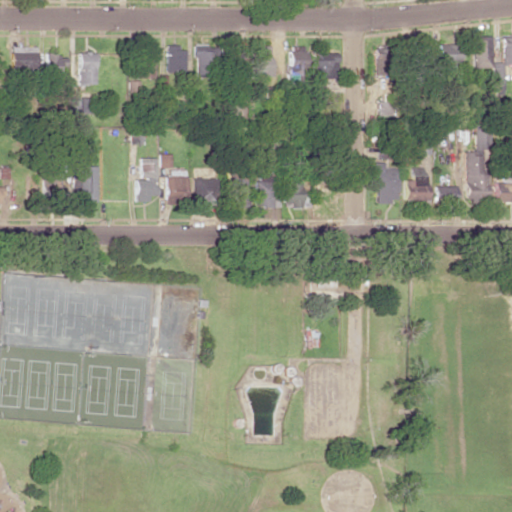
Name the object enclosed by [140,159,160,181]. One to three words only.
house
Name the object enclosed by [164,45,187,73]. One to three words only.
house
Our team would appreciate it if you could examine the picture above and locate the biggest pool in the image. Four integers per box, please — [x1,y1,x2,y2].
[236,366,294,443]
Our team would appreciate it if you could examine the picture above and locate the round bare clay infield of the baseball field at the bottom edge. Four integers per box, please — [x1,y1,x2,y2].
[320,470,376,512]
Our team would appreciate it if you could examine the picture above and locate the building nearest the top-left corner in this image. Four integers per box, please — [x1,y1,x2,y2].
[11,46,43,71]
